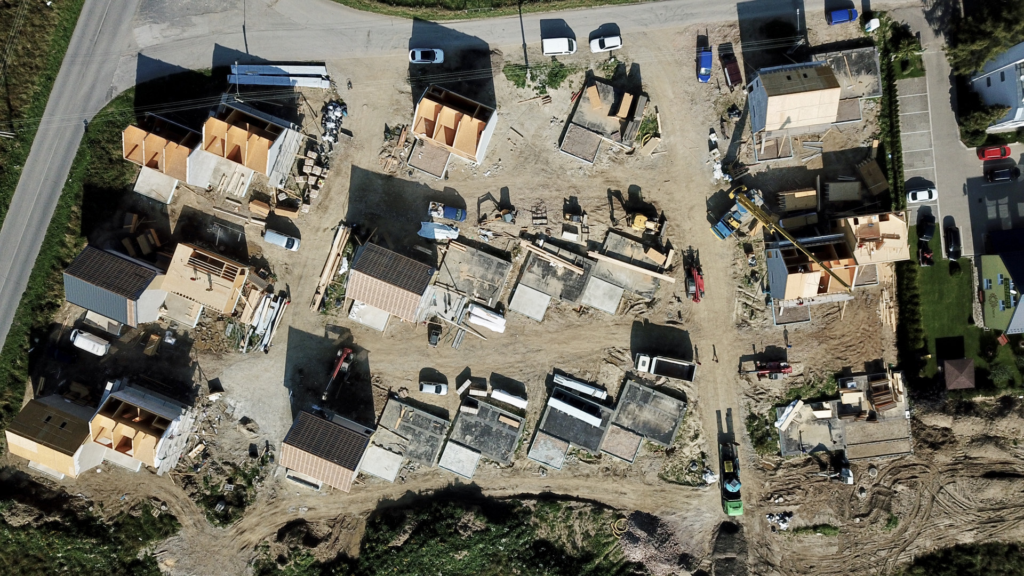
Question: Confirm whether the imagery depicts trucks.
Yes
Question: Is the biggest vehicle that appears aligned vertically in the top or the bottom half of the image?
bottom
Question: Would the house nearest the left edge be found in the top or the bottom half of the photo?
bottom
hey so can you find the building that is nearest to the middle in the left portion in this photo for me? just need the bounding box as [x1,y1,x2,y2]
[344,242,436,323]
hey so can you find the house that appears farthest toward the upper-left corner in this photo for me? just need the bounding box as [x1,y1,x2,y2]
[122,111,214,187]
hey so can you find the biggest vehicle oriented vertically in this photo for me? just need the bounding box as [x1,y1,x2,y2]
[720,442,745,519]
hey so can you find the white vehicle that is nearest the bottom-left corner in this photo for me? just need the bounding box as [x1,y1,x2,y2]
[71,329,111,357]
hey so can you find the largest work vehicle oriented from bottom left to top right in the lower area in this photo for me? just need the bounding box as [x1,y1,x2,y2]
[323,348,355,398]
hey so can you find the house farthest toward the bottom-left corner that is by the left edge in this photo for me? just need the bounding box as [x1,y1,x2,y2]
[5,399,101,477]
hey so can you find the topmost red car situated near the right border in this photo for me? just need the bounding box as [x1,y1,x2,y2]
[975,144,1010,161]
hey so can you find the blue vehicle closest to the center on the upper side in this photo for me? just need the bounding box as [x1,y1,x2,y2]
[427,203,467,221]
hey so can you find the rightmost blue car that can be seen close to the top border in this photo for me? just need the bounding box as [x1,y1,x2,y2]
[823,7,858,25]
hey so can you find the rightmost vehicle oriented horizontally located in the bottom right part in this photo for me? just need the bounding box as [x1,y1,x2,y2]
[814,468,857,482]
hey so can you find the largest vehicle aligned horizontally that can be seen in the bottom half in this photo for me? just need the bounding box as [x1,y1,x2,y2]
[633,353,698,384]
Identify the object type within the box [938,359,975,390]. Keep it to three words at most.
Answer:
gazebo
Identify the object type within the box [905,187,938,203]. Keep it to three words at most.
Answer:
car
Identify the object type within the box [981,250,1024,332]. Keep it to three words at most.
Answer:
building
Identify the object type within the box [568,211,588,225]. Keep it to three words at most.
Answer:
work vehicle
